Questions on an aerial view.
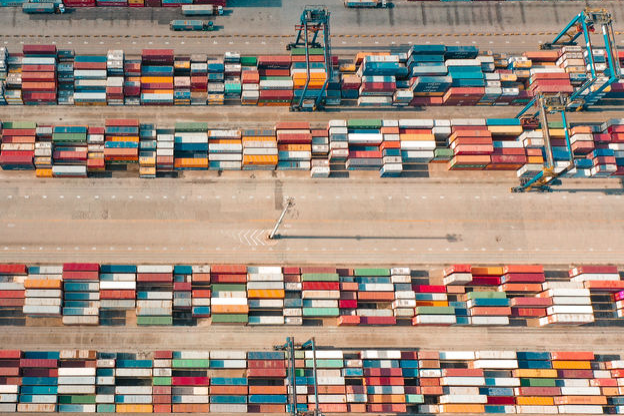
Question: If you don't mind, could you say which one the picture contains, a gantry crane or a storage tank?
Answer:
gantry crane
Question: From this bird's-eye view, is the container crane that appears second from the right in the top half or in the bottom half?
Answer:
top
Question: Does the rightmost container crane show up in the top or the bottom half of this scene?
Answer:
top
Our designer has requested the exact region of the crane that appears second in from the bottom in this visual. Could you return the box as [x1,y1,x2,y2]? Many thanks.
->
[506,94,572,191]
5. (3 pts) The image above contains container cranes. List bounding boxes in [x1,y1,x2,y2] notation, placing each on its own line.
[287,10,330,111]
[273,334,319,416]
[548,12,620,111]
[506,94,572,191]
